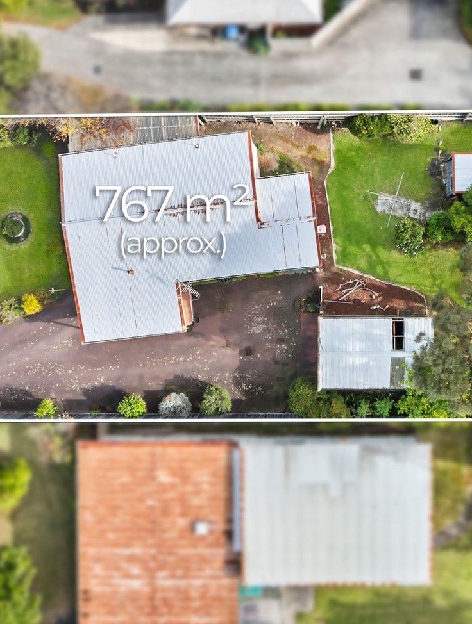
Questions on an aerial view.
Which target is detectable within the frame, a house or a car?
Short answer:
house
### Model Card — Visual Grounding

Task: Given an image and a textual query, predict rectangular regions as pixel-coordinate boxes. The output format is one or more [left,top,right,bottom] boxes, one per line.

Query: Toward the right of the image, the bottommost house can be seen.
[208,435,434,588]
